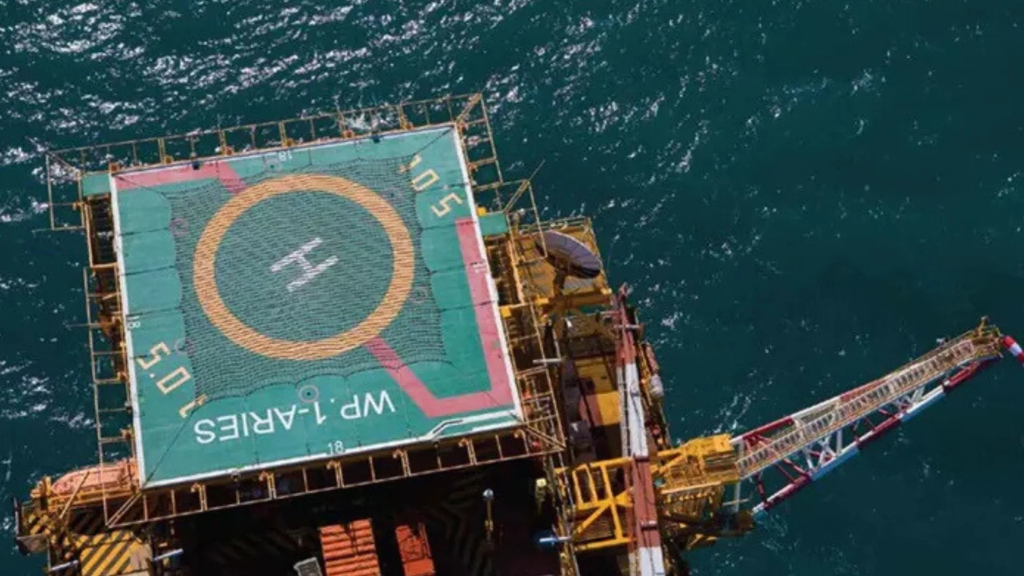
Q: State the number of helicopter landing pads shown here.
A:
one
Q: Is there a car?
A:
No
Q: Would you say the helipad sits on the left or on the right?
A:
left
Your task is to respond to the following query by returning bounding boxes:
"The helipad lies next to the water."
[23,83,565,527]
